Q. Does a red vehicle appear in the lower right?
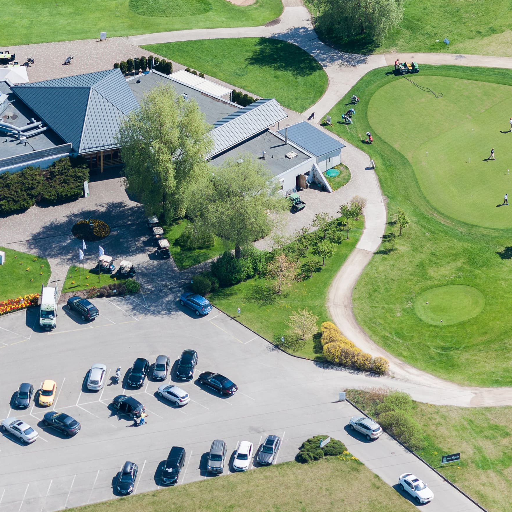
No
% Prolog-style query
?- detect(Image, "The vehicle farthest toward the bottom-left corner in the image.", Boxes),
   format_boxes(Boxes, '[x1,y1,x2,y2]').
[0,419,42,445]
